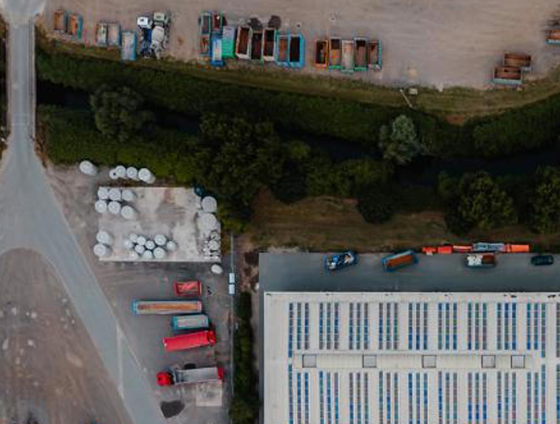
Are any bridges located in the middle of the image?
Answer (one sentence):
No, looking in the middle of the image, there is no bridge.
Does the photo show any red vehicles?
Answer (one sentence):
Yes, this view includes a red vehicle.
